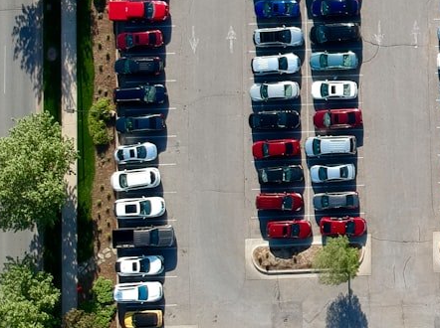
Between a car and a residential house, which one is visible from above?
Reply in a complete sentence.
It is a car that can be seen here.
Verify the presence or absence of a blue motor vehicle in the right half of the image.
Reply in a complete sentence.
Yes, a blue motor vehicle appears in the right half of the image.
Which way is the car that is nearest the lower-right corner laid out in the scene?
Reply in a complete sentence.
The car that is nearest the lower-right corner is oriented from left to right.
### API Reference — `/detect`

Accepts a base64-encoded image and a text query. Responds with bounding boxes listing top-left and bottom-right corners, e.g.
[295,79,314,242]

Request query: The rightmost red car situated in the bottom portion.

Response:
[320,216,366,238]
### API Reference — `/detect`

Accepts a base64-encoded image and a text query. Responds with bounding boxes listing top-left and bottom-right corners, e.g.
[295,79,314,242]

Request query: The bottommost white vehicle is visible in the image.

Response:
[113,280,164,304]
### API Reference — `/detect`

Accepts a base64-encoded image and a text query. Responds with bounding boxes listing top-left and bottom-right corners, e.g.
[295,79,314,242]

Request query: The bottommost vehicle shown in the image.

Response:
[125,309,164,328]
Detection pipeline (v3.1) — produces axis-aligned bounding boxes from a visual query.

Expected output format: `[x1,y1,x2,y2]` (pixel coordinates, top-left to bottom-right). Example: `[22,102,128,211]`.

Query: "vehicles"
[251,51,301,74]
[249,108,301,131]
[114,53,165,75]
[313,192,359,212]
[116,255,165,277]
[320,216,366,238]
[253,138,301,159]
[311,51,359,72]
[117,112,167,134]
[113,280,164,304]
[314,108,363,129]
[312,80,358,101]
[267,219,312,241]
[256,191,303,213]
[258,163,303,184]
[255,0,300,19]
[112,83,168,104]
[310,22,360,45]
[311,163,355,184]
[114,143,159,163]
[110,224,175,248]
[125,309,164,328]
[253,24,303,47]
[106,0,171,22]
[306,135,356,158]
[251,81,300,103]
[114,196,167,219]
[118,30,164,50]
[111,169,162,191]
